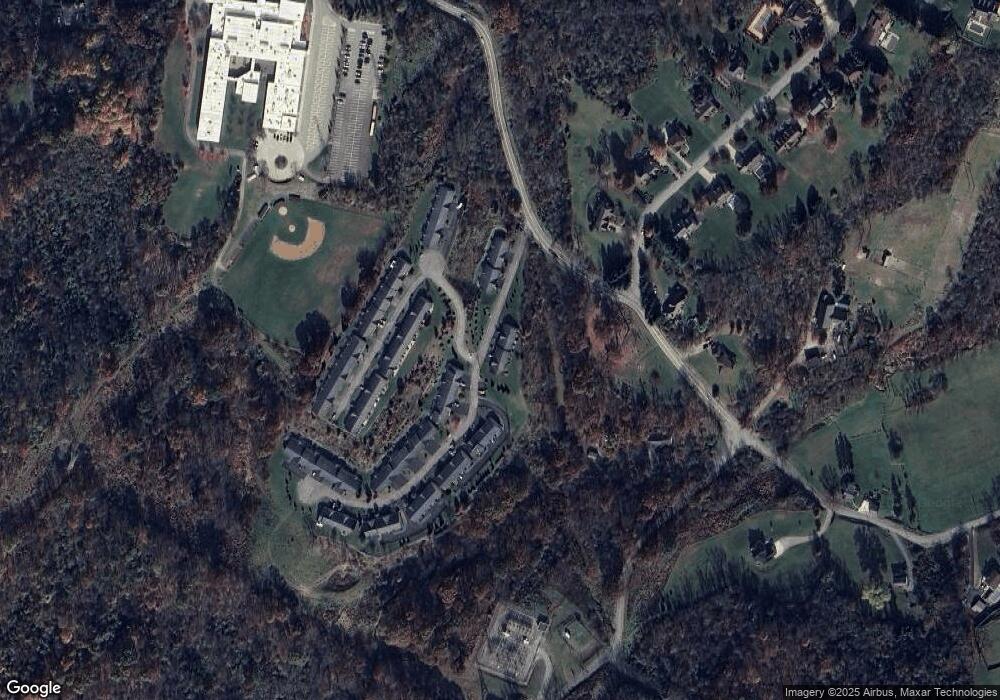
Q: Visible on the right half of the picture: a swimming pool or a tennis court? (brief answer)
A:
swimming pool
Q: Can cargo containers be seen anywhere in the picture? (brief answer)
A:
No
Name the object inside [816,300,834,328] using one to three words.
building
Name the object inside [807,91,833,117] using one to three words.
house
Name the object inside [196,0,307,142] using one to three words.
building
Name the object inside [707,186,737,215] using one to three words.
house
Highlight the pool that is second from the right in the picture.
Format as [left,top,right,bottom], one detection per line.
[881,33,899,53]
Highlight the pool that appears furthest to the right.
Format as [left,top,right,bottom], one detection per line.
[967,19,987,35]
